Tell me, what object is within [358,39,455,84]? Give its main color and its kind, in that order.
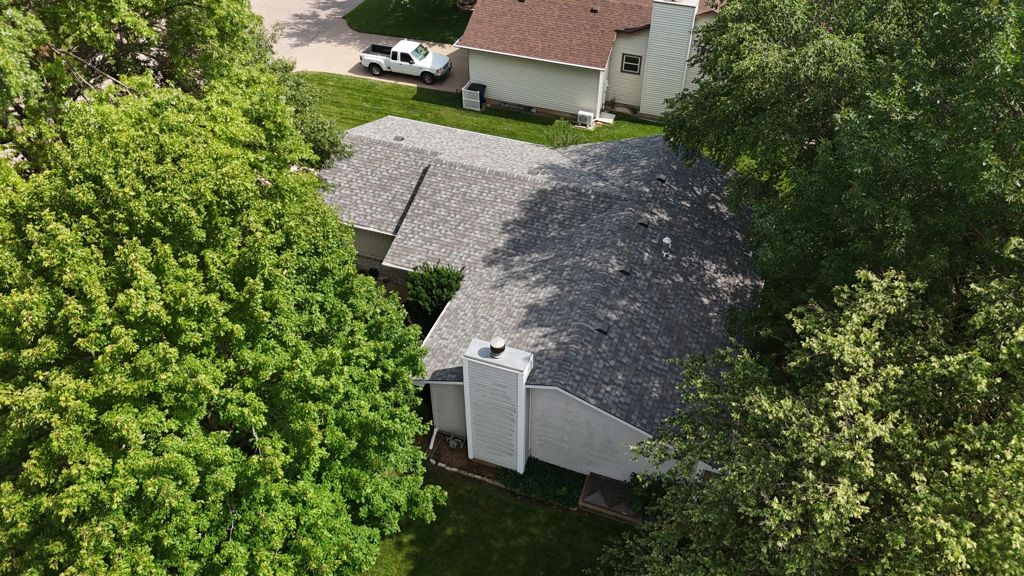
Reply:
white truck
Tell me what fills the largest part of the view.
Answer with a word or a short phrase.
trees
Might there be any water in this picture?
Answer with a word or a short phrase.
No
